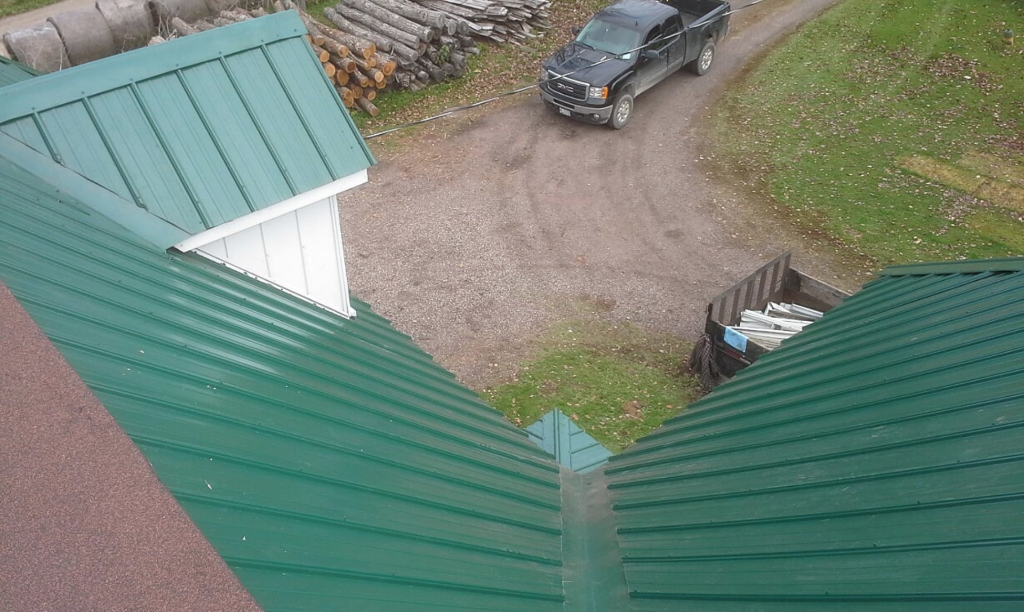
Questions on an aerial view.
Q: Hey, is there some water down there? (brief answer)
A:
No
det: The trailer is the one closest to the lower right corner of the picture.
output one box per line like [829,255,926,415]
[706,250,845,381]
